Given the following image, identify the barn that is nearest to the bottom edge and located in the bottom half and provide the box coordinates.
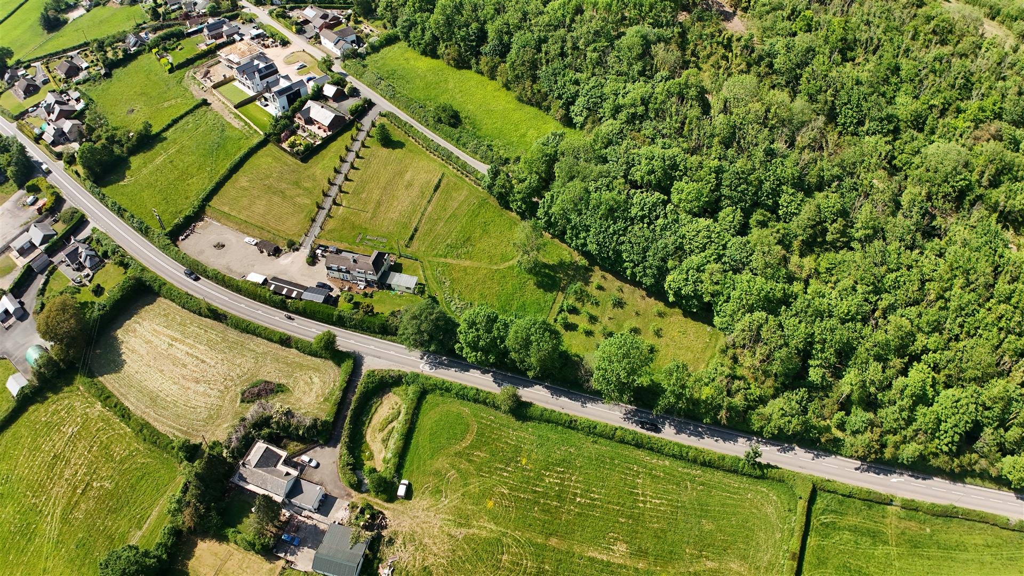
[311,524,371,576]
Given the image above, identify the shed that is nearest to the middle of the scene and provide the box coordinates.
[390,271,419,294]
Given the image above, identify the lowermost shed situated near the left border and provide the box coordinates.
[5,373,28,400]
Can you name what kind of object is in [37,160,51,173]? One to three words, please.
vehicle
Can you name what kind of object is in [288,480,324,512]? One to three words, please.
building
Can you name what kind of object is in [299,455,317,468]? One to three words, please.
vehicle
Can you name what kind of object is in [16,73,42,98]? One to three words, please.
house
